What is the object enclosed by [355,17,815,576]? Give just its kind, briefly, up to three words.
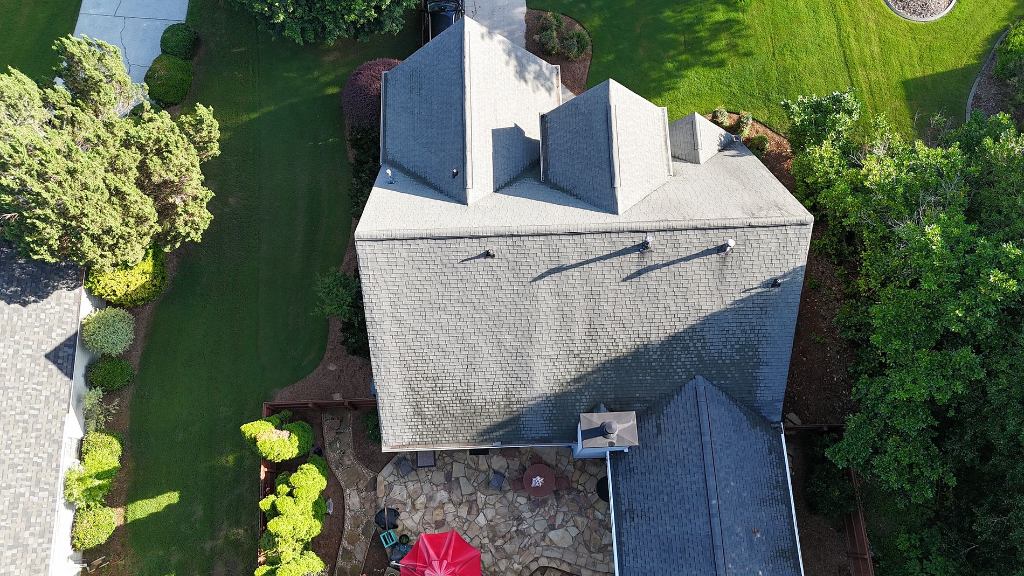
house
